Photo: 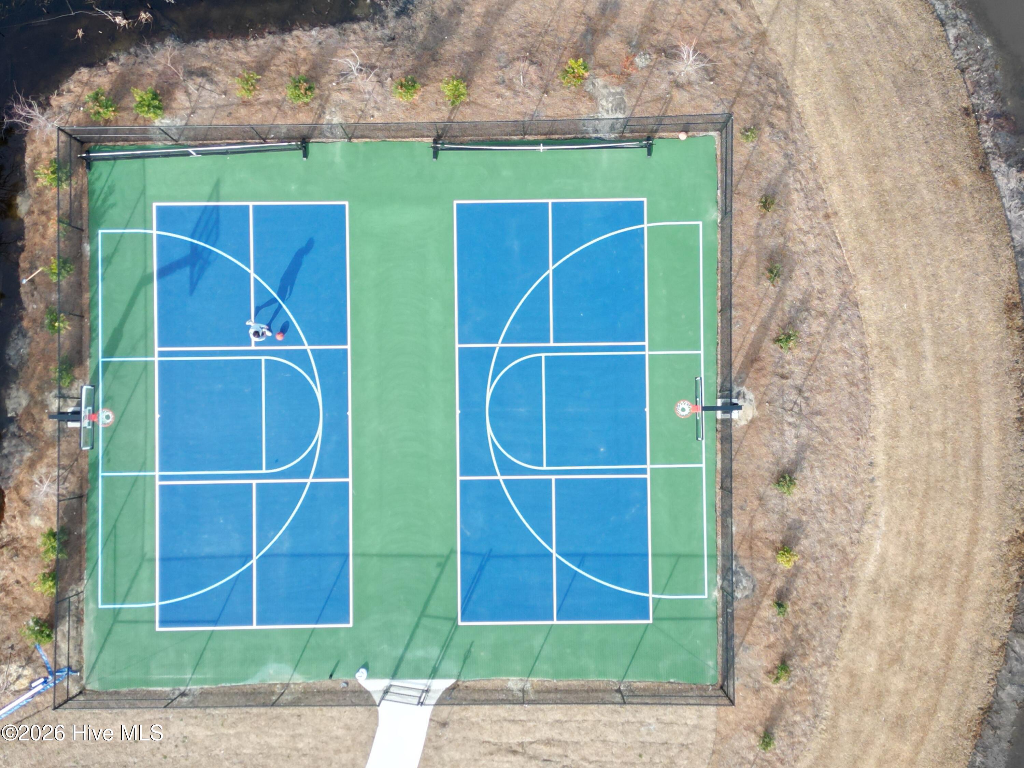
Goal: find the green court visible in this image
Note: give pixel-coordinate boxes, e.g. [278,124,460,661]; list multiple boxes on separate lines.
[84,136,718,690]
